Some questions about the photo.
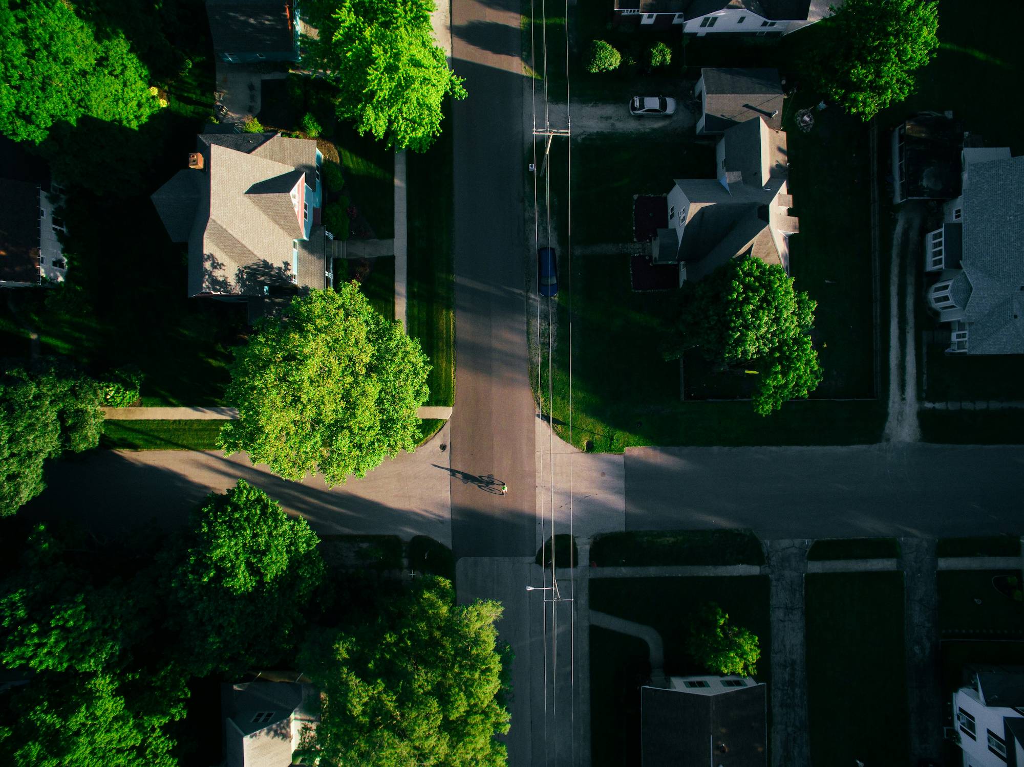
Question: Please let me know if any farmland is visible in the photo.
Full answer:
No, no farmland is visible.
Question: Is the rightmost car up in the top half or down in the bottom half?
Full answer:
The rightmost car is in the top half of the image.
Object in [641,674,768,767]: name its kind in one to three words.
house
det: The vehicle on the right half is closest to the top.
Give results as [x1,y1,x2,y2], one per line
[630,93,677,118]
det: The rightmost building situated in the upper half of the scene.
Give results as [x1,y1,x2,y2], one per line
[928,147,1024,354]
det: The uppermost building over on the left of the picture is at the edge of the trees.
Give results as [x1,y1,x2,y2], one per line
[212,0,297,61]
